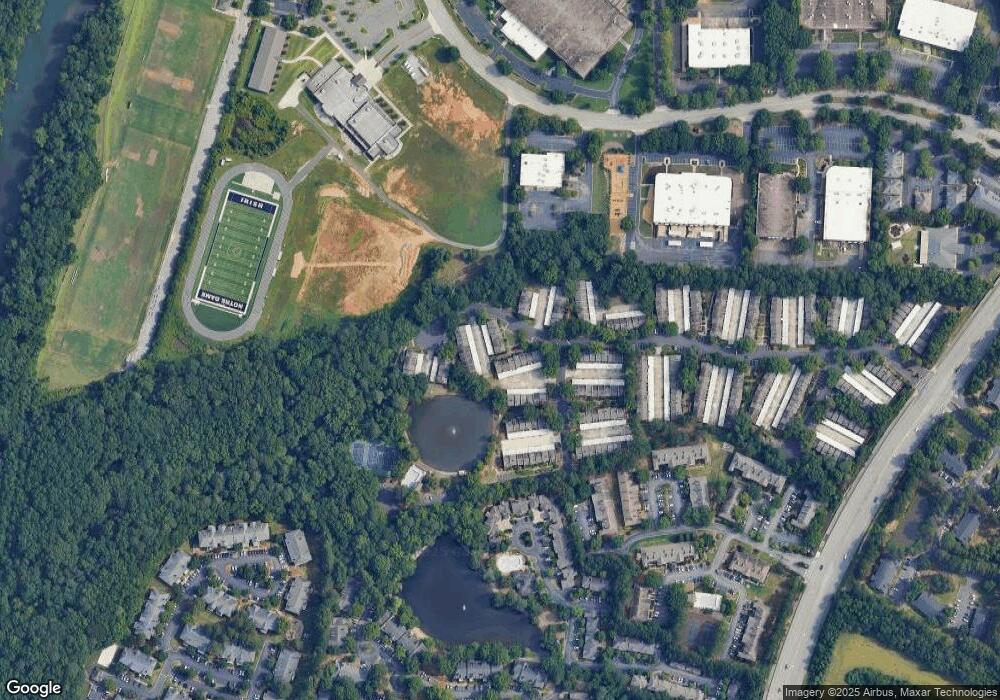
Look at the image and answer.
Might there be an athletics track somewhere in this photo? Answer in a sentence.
Yes, this view includes an athletics track.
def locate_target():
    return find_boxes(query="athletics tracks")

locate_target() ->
[184,163,290,341]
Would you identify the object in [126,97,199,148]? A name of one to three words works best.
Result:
sports field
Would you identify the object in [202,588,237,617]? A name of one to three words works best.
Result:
building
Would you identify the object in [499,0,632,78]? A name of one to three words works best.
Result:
building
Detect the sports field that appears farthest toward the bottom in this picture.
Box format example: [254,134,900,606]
[54,262,155,350]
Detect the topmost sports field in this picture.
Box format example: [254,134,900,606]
[138,6,229,111]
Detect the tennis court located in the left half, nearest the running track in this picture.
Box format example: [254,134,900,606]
[353,440,401,471]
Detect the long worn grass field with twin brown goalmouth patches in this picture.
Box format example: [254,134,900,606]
[82,131,188,268]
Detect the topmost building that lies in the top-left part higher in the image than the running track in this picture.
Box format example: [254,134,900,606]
[247,25,286,93]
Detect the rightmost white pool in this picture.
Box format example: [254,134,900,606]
[497,553,527,575]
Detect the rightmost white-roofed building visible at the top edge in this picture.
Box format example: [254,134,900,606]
[899,0,979,51]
